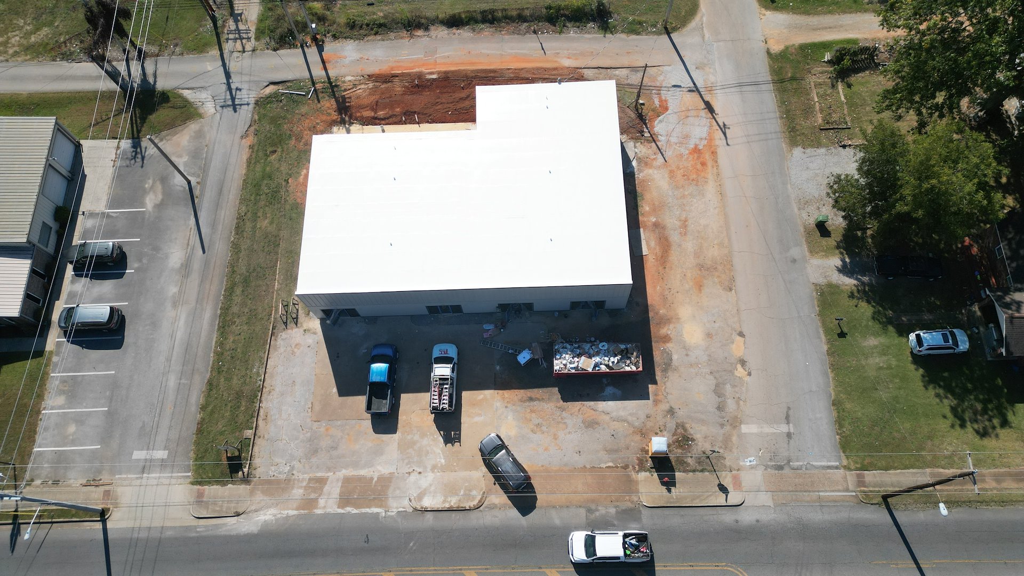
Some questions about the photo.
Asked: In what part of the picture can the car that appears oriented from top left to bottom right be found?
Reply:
bottom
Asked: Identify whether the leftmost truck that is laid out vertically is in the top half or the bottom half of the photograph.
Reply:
bottom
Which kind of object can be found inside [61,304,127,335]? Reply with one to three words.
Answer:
car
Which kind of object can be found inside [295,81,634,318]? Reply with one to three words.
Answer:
building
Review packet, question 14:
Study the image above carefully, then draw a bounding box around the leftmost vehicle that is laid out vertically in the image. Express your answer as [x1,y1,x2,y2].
[365,344,398,417]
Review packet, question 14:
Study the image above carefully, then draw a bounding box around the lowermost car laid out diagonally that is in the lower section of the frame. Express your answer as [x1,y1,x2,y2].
[477,431,535,499]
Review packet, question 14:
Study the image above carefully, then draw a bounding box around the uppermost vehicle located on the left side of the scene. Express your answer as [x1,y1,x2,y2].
[64,241,127,271]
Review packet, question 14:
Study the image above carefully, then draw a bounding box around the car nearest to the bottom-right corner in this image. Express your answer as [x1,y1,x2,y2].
[902,327,969,358]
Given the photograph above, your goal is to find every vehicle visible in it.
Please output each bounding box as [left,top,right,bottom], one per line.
[429,344,459,415]
[567,528,652,566]
[902,327,969,358]
[365,344,398,417]
[61,304,127,335]
[64,241,127,271]
[477,431,535,499]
